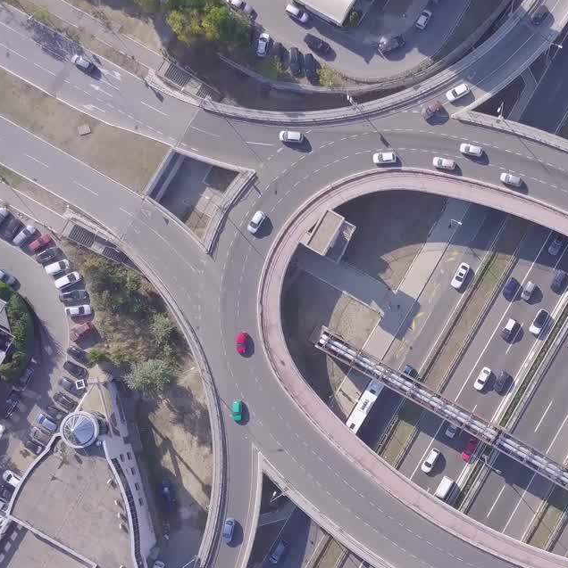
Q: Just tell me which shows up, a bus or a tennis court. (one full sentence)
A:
The one in the frame is a bus.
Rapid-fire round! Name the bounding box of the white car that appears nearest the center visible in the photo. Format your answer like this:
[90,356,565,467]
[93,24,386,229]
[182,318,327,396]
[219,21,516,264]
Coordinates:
[248,210,267,234]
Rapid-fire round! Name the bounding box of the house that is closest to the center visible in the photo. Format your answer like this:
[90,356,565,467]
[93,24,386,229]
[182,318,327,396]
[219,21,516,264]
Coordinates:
[305,209,362,262]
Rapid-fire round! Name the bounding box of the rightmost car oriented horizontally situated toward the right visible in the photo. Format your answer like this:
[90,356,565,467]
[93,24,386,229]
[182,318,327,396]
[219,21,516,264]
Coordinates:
[499,173,524,187]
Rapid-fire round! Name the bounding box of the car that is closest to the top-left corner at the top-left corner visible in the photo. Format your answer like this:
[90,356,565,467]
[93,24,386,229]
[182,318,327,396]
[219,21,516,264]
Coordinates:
[70,54,97,74]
